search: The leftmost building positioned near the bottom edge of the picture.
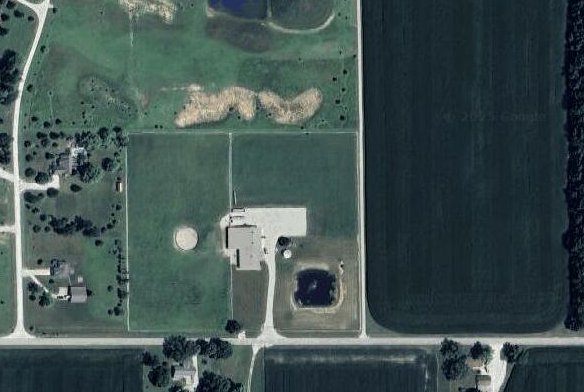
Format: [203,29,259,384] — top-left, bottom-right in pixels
[174,358,195,388]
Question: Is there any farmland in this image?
Yes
